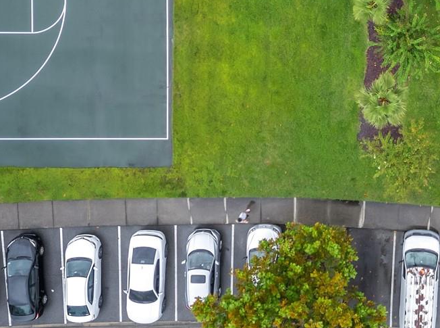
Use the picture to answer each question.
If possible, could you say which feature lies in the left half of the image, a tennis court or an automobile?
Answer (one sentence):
There is an automobile in the left half of the image.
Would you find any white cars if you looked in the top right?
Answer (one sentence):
No, in the top right there is no white car.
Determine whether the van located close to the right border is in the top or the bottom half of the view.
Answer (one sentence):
The van located close to the right border sits in the bottom half of the picture.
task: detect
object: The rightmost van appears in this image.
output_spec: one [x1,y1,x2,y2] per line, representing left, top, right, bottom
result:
[400,230,440,328]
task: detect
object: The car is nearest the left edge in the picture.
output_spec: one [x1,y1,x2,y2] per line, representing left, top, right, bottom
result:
[1,235,50,322]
